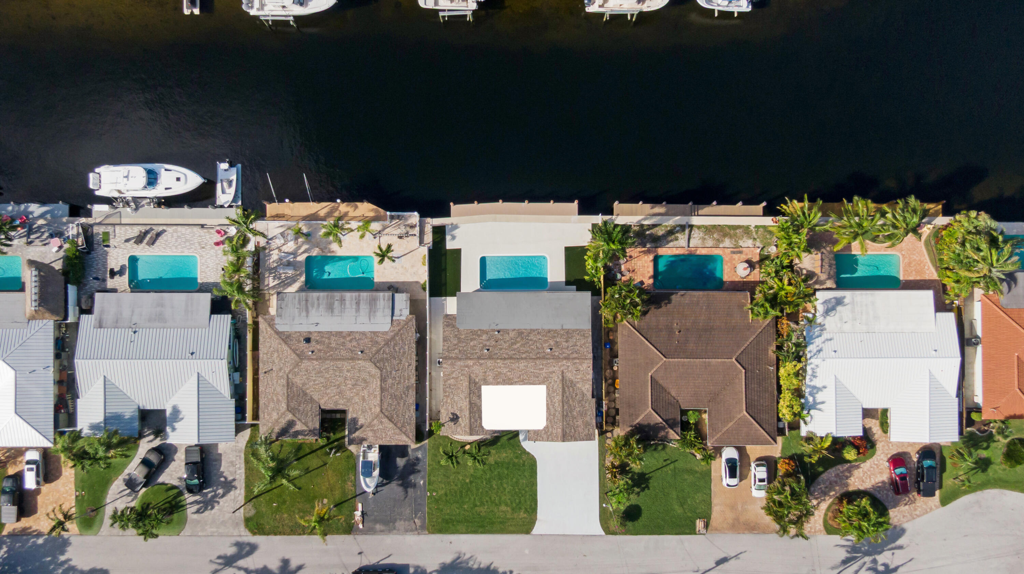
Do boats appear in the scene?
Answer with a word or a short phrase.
Yes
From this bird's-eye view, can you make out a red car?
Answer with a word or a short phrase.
Yes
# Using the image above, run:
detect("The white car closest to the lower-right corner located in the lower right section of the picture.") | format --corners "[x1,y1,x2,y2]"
[749,460,769,498]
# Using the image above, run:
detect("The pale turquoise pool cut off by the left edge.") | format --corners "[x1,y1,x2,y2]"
[0,253,24,292]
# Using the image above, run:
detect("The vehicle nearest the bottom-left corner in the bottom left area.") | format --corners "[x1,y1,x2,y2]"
[0,473,23,524]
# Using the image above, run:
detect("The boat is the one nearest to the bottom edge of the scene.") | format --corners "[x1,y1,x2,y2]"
[360,445,379,492]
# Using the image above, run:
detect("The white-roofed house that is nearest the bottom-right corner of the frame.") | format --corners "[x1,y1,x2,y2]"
[796,290,962,443]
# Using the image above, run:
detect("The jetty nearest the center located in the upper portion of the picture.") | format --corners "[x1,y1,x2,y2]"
[451,200,578,215]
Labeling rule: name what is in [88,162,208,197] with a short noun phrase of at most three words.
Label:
boat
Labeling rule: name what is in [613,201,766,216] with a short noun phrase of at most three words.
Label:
pier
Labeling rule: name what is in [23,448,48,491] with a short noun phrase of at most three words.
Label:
car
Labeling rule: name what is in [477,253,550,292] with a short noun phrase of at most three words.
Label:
swimming pool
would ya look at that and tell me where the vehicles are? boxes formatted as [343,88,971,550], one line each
[183,445,206,494]
[0,473,23,524]
[352,568,398,574]
[124,444,165,494]
[23,448,48,491]
[719,446,741,489]
[886,455,911,496]
[749,460,769,498]
[913,448,937,498]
